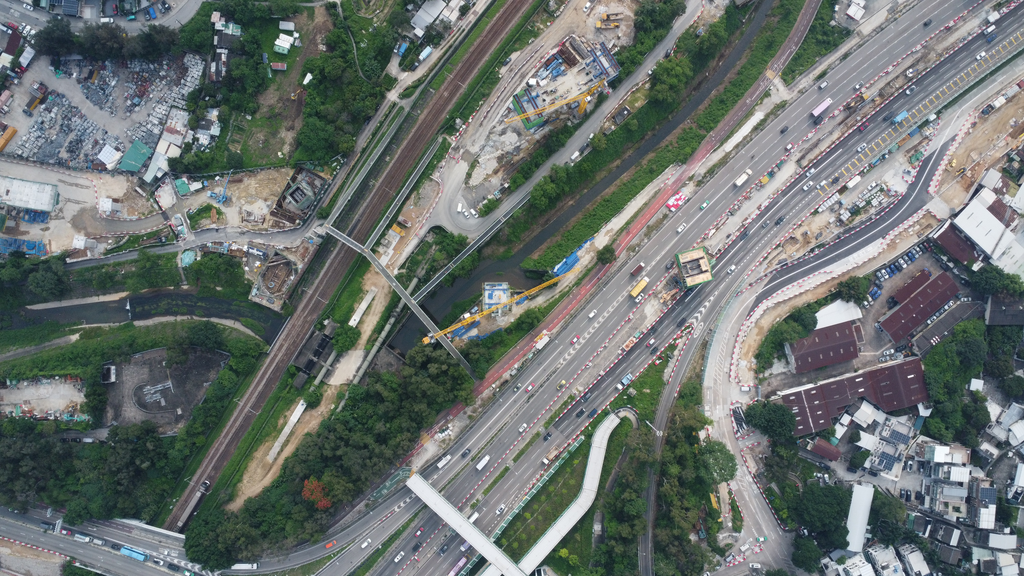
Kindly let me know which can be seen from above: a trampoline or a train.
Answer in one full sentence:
There is a train in the scene.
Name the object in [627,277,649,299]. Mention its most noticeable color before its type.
yellow truck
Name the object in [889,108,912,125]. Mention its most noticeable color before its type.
blue vehicle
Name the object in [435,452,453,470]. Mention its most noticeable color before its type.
white vehicle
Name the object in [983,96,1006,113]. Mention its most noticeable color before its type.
white vehicle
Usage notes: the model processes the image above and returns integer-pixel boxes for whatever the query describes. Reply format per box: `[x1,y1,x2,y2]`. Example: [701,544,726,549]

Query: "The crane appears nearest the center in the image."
[423,268,580,346]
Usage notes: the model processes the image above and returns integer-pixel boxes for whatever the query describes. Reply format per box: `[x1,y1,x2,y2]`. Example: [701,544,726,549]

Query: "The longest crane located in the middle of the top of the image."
[504,80,607,123]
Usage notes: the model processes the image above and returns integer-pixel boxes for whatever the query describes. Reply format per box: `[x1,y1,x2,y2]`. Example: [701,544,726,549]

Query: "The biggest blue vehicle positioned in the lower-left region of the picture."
[118,546,151,563]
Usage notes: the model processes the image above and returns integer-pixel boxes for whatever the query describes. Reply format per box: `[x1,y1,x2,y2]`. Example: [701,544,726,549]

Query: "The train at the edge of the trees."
[170,482,210,539]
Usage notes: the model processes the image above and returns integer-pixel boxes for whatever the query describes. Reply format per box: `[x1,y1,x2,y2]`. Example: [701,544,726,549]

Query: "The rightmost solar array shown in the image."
[980,488,998,505]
